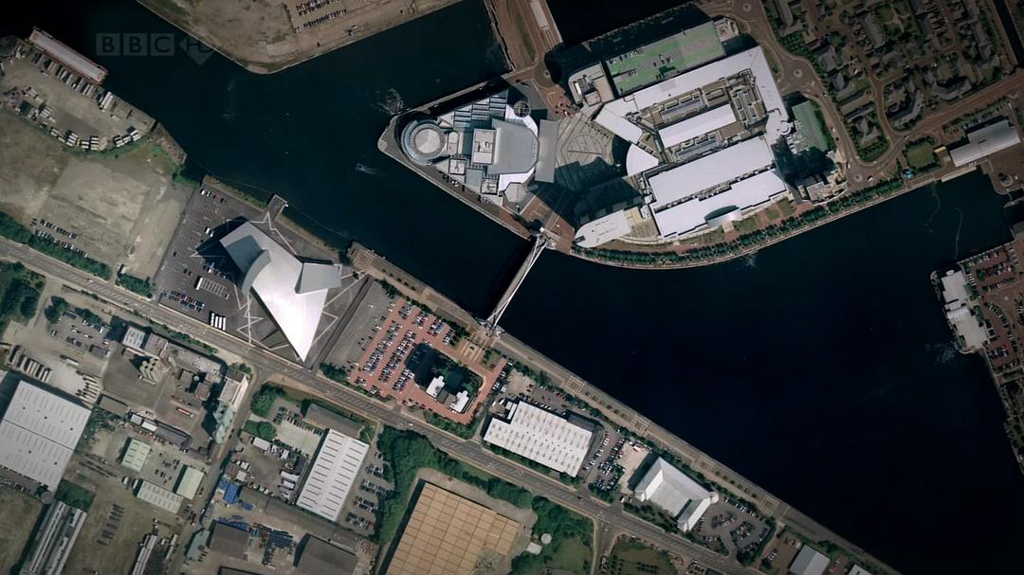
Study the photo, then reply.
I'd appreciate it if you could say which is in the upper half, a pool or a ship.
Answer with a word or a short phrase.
ship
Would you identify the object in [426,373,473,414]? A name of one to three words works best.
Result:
building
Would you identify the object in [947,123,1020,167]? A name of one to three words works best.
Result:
shed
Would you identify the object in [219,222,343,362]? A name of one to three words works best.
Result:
building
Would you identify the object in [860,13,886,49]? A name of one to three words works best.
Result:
house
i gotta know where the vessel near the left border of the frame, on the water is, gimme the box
[29,28,108,80]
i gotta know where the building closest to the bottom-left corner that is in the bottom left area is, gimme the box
[17,500,90,575]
